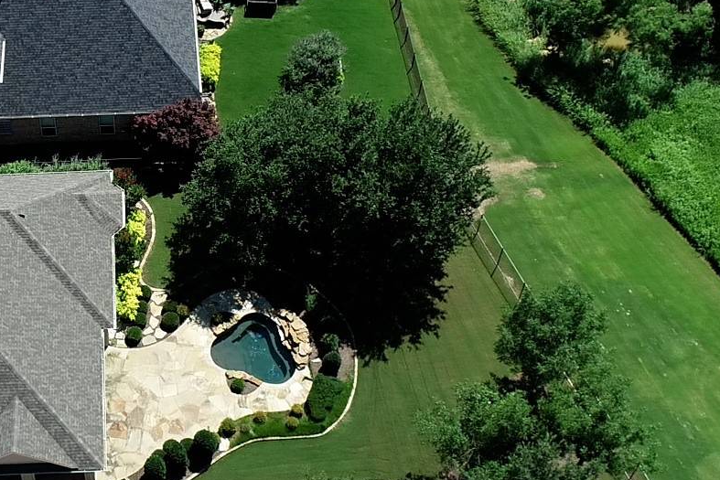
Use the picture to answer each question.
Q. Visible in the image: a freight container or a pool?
pool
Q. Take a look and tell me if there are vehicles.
No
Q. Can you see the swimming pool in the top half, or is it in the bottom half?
bottom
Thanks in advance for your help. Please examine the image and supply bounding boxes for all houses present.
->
[0,0,203,145]
[0,169,127,480]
